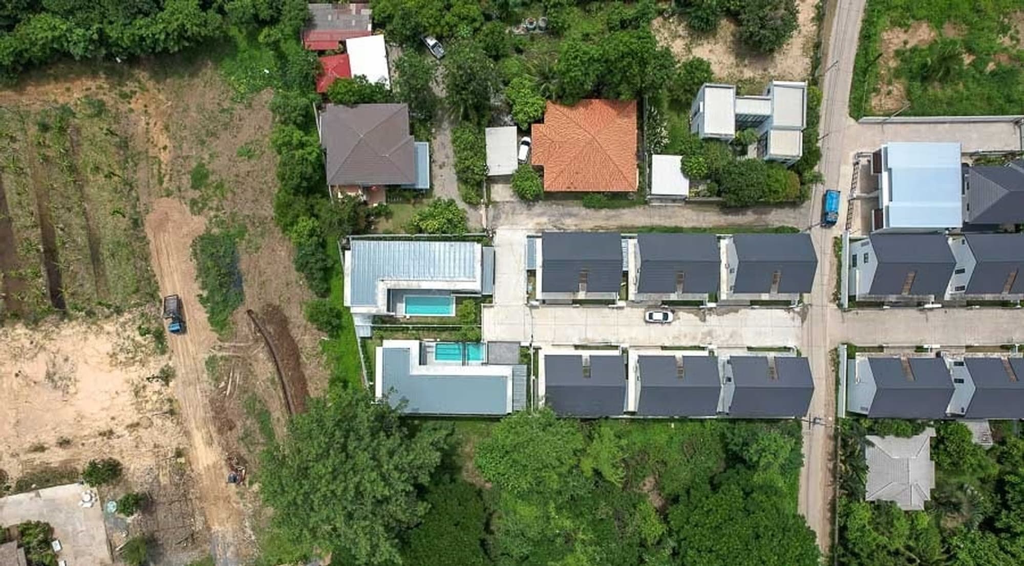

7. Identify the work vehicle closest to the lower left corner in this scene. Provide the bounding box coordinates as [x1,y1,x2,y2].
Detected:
[228,460,245,486]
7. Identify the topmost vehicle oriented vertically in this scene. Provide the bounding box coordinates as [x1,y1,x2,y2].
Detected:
[517,136,532,164]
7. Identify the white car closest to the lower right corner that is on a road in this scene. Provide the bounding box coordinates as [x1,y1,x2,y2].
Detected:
[645,311,673,324]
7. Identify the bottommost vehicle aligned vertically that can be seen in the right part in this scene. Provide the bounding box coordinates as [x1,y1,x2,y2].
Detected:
[817,189,838,228]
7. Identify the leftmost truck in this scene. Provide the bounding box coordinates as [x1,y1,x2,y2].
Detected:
[163,294,186,335]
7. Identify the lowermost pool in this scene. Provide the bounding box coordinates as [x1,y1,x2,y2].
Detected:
[433,342,485,362]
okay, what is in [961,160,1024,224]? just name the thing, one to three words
house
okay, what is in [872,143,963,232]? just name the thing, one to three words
building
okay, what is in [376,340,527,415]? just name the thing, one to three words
house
